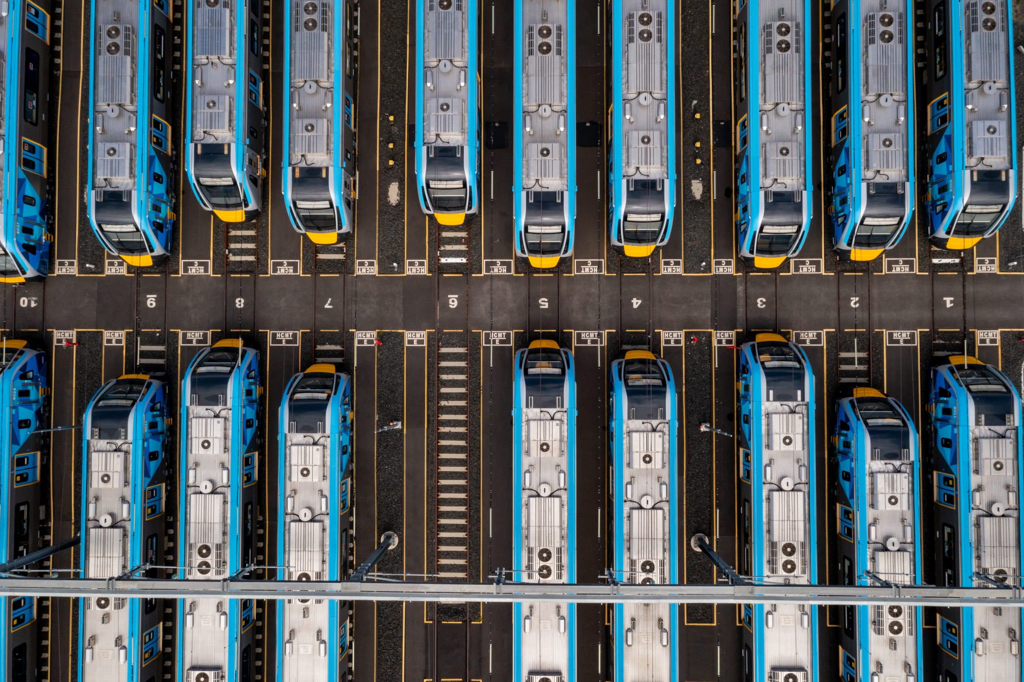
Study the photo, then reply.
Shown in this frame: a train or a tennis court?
train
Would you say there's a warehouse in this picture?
No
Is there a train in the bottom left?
Yes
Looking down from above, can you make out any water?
No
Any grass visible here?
No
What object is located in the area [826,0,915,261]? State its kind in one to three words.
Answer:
train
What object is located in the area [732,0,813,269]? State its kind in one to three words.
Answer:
train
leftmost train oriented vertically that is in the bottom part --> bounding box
[0,338,52,682]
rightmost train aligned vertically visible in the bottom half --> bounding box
[924,354,1024,682]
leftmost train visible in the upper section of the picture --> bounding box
[0,0,58,289]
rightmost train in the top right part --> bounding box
[920,0,1017,250]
